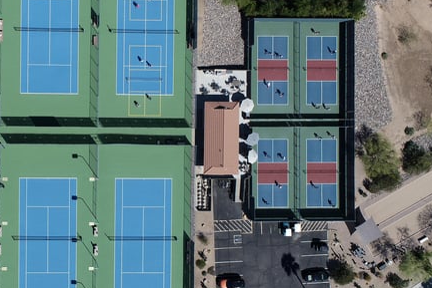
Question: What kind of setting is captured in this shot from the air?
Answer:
sports ground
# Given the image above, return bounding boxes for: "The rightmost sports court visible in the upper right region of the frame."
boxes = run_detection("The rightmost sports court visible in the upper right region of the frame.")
[292,22,346,119]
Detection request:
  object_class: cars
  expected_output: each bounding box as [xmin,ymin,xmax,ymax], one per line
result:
[218,277,243,288]
[302,268,327,281]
